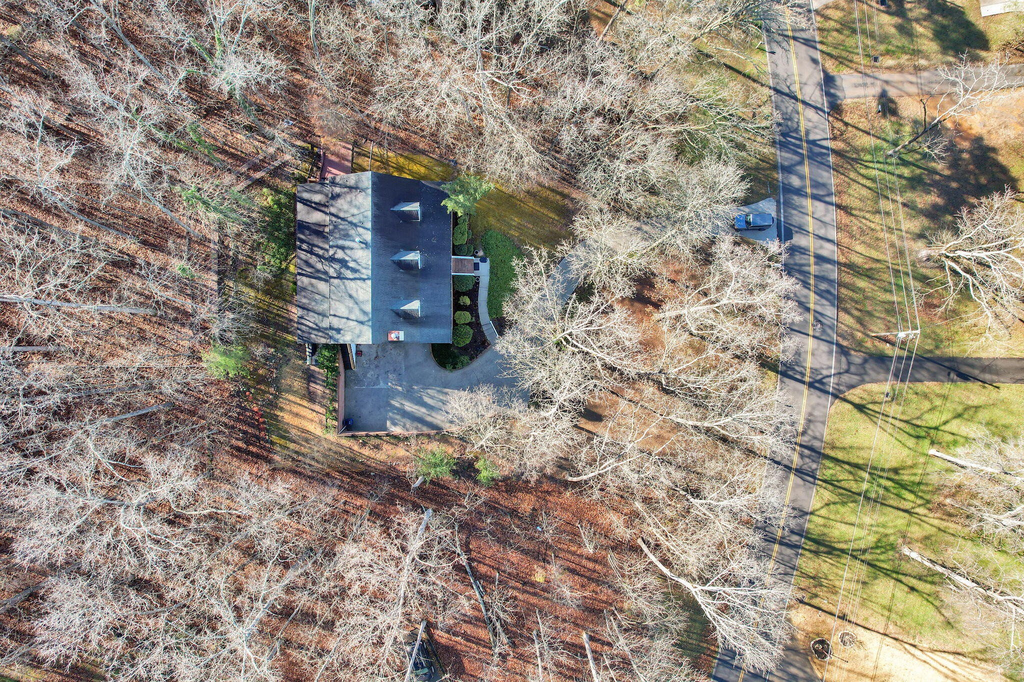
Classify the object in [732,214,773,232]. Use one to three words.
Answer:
car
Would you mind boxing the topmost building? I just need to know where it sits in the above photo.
[296,171,454,344]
